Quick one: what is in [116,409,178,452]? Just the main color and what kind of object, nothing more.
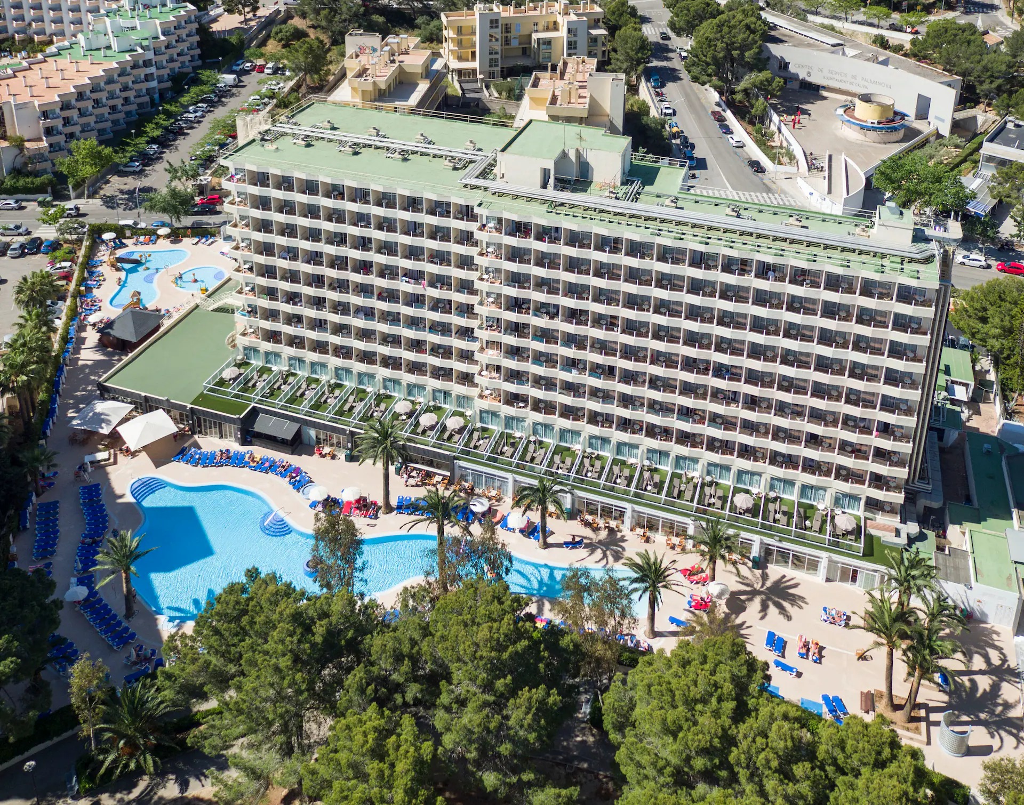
white umbrella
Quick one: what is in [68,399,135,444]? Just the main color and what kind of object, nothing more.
white umbrella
